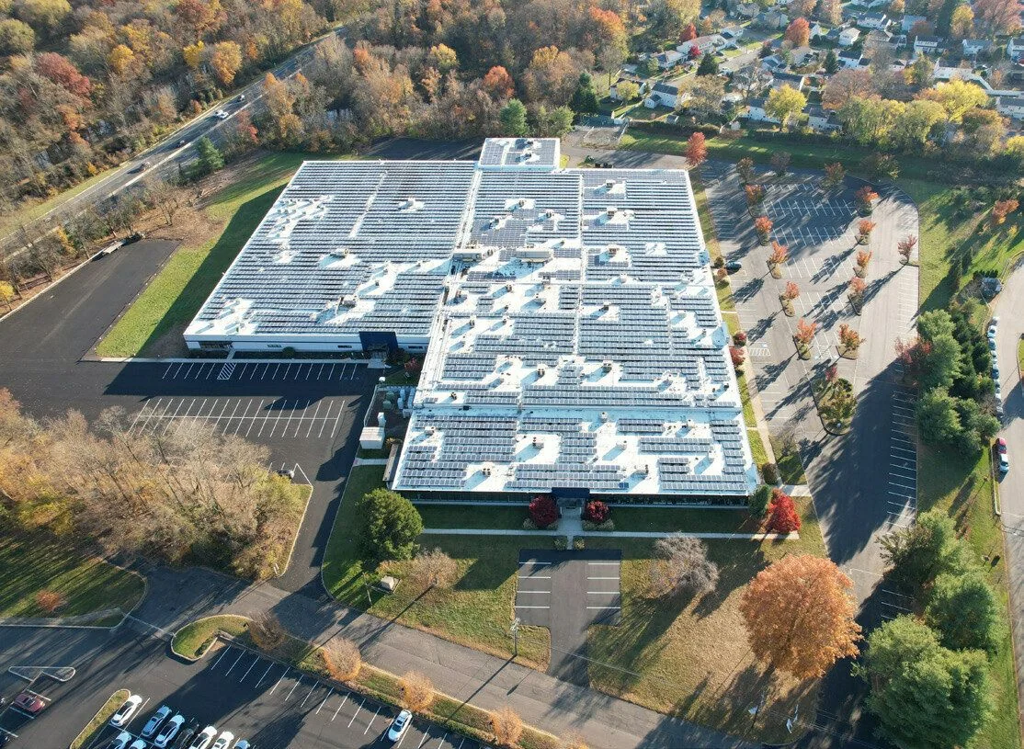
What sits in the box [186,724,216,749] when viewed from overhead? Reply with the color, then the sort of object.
white car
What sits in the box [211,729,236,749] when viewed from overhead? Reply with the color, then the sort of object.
white car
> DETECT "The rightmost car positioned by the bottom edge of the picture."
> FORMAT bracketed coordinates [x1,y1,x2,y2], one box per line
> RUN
[385,709,412,741]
